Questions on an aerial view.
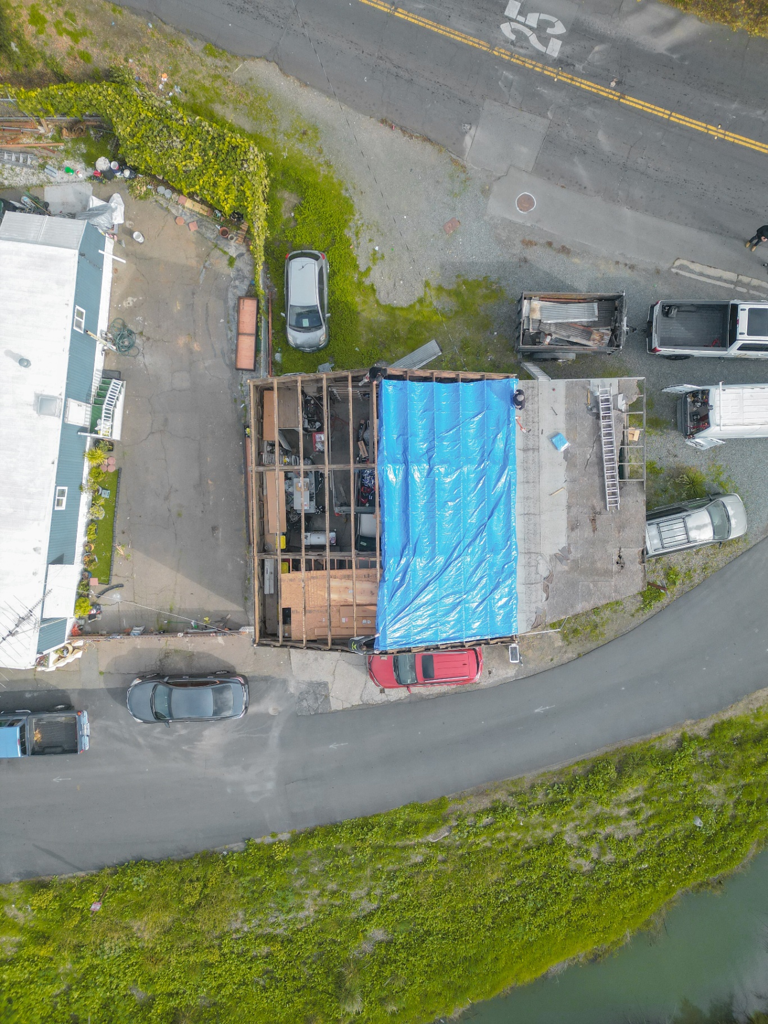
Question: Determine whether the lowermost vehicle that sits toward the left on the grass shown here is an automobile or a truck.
automobile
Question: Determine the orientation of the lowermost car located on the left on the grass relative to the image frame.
from top to bottom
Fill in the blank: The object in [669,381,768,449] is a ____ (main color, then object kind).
white van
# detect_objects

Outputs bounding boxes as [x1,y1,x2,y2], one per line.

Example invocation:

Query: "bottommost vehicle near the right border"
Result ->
[647,494,749,557]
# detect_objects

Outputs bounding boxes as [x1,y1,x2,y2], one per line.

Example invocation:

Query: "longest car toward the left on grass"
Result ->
[279,250,331,353]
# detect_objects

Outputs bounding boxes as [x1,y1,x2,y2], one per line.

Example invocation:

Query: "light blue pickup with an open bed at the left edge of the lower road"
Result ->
[0,700,90,757]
